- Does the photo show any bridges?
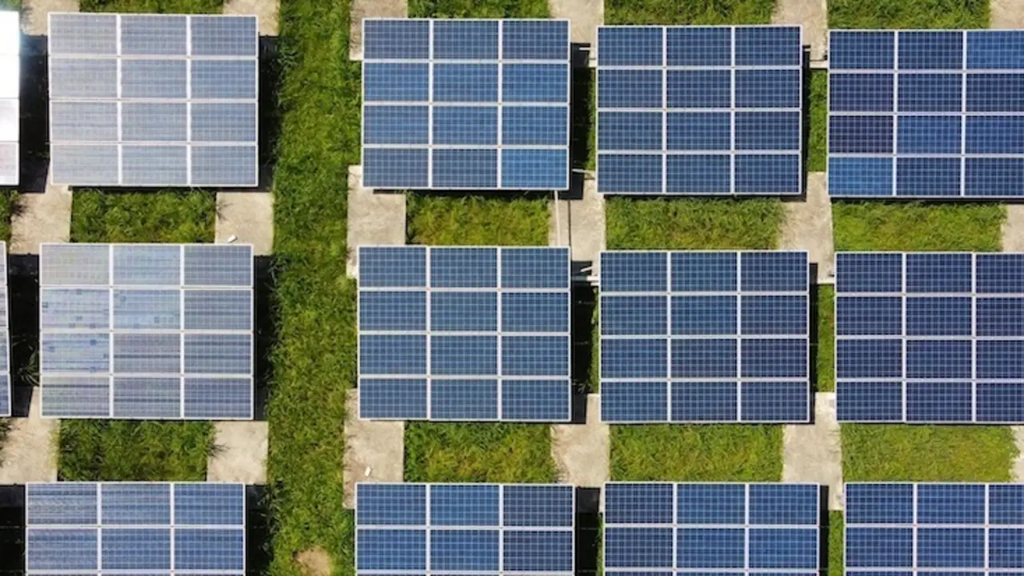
No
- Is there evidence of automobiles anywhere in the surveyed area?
No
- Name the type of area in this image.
solar farm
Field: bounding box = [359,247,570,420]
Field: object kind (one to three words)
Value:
solar array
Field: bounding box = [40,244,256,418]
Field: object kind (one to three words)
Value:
solar array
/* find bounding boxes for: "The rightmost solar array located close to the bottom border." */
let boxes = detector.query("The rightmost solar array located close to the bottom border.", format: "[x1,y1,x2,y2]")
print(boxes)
[835,483,1024,576]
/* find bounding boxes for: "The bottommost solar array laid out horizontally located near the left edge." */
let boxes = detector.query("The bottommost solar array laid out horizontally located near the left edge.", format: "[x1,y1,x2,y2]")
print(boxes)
[26,482,249,576]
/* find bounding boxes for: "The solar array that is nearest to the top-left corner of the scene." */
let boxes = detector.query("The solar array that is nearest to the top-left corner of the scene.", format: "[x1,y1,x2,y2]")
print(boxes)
[0,11,32,182]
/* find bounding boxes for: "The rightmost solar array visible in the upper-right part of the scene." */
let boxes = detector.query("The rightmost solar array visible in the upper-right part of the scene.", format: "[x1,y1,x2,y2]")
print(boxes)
[821,30,1024,197]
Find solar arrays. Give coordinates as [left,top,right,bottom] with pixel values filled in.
[49,15,260,185]
[599,251,809,423]
[40,244,256,418]
[828,252,1024,423]
[0,242,18,416]
[363,19,569,189]
[597,25,801,194]
[0,11,32,182]
[26,482,249,576]
[359,247,570,420]
[357,483,574,576]
[821,30,1024,197]
[835,483,1024,576]
[603,483,819,576]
